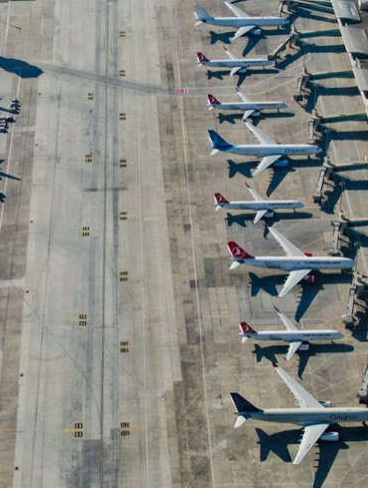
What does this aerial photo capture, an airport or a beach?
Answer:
airport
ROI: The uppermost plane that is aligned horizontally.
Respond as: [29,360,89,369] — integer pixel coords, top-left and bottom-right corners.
[196,0,289,37]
